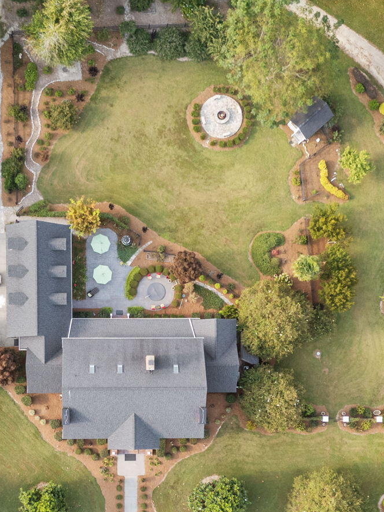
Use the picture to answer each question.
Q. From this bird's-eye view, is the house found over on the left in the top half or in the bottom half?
bottom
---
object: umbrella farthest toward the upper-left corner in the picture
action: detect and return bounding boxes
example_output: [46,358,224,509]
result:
[91,235,110,254]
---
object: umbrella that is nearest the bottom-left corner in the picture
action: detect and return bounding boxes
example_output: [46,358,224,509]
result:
[94,265,112,284]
